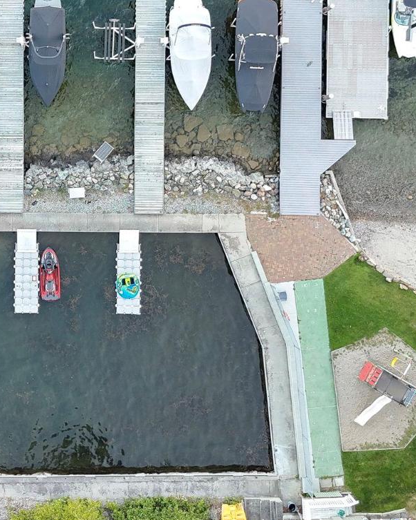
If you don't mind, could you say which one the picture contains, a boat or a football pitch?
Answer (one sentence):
This aerial view contains a boat.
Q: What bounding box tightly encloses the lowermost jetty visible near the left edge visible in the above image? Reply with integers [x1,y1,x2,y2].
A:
[12,230,42,314]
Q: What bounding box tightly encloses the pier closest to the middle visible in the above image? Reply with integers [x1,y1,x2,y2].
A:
[115,230,144,316]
